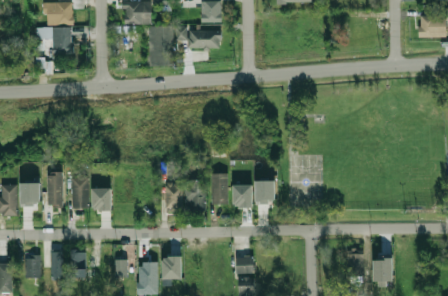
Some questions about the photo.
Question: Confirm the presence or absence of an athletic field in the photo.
Yes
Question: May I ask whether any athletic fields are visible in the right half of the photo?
Yes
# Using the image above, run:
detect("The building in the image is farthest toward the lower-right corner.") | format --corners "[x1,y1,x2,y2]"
[374,259,394,288]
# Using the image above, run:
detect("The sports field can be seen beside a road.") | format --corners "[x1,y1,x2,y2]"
[325,88,444,205]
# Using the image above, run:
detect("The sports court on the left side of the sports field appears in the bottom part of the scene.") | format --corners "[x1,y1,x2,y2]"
[290,154,323,207]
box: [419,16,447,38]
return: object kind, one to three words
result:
house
